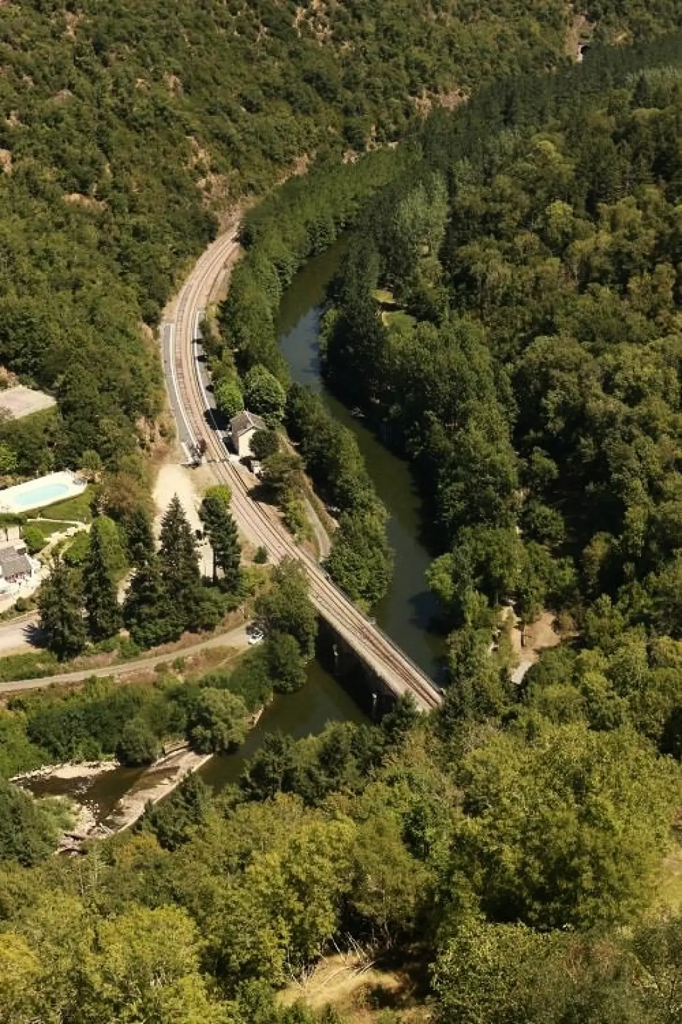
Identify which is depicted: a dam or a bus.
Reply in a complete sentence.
Looking from above, you can make out a dam.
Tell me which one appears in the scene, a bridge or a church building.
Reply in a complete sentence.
This aerial view contains a bridge.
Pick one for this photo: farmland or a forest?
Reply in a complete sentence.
The area seen from above is a forest.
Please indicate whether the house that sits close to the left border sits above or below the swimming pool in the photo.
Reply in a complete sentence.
In the image, the house that sits close to the left border appears below the swimming pool.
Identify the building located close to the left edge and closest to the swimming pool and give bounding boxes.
[0,529,30,581]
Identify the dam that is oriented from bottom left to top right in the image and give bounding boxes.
[117,751,215,837]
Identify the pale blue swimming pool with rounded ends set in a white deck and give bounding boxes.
[0,471,87,514]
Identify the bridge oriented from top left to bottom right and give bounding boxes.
[286,568,449,705]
